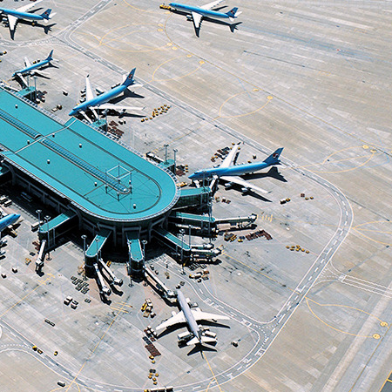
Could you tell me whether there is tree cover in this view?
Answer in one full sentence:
No, the picture contains no tree cover.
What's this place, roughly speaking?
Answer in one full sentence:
The picture captures an airport.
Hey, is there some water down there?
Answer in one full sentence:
No, the picture contains no water.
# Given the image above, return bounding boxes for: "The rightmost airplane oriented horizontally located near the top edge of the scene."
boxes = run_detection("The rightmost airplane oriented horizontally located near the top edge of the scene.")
[169,0,241,27]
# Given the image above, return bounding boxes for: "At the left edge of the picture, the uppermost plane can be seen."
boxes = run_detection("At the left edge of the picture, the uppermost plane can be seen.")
[0,0,56,29]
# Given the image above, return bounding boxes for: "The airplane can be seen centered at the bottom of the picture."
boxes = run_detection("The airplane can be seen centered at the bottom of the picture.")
[155,290,229,343]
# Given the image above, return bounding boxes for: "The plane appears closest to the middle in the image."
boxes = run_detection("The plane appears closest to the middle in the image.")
[189,140,285,191]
